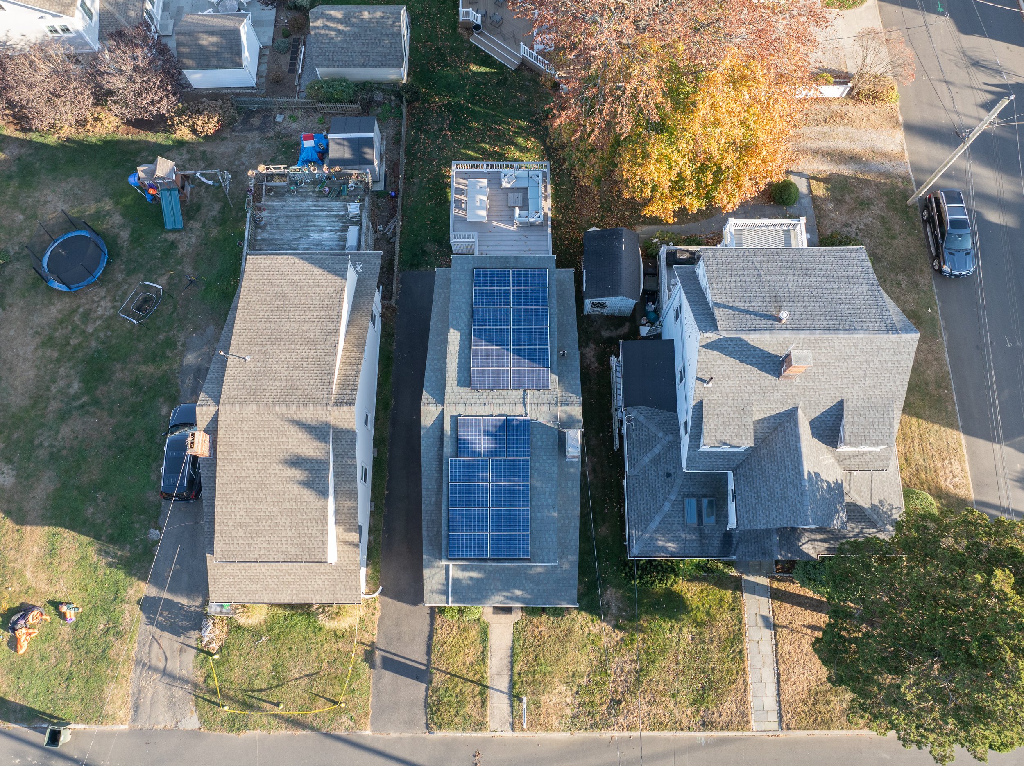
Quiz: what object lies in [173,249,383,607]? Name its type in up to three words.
house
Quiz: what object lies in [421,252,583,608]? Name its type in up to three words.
house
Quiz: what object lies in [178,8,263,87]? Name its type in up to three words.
building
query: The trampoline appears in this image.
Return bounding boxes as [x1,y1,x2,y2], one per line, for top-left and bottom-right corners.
[14,207,120,299]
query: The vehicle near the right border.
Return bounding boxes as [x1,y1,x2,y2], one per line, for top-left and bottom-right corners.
[920,190,978,282]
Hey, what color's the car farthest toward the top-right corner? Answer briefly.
blue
